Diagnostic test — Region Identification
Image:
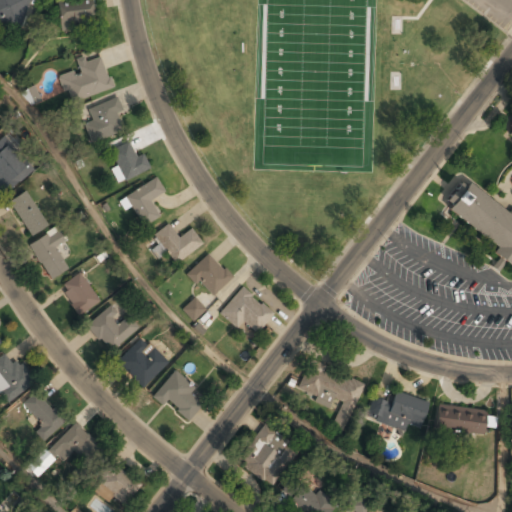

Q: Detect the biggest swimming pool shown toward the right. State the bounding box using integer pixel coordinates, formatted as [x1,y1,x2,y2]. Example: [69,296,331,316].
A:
[378,446,400,461]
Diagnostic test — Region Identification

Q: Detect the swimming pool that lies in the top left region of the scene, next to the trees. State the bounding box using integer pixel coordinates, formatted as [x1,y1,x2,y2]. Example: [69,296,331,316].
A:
[43,70,58,94]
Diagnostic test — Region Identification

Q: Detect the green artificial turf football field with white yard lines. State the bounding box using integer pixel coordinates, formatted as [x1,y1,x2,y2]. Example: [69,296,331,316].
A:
[252,0,377,173]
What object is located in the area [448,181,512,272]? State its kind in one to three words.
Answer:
building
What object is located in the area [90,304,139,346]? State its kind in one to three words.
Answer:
house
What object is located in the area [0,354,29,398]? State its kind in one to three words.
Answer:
house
